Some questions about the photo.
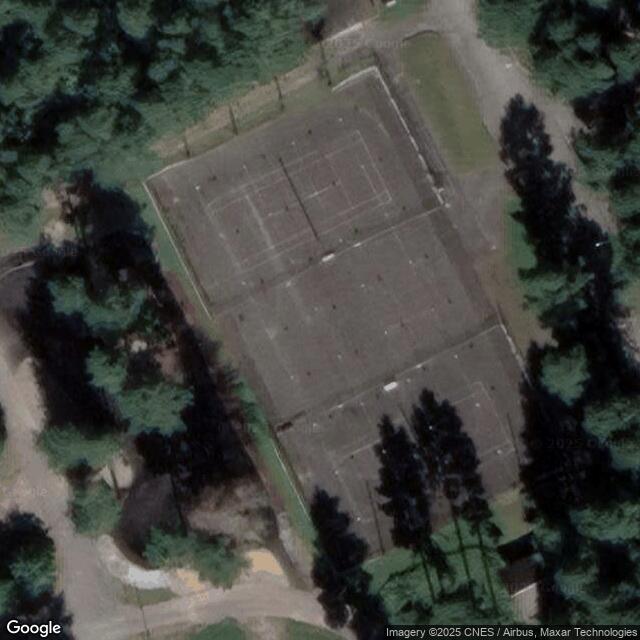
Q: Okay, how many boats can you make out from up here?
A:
none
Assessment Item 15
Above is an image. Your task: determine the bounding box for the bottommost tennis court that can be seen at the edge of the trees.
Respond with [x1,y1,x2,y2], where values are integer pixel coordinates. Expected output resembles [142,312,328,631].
[278,328,529,561]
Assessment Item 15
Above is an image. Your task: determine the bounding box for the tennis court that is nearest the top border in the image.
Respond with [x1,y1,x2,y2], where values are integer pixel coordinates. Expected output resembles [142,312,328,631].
[146,70,442,317]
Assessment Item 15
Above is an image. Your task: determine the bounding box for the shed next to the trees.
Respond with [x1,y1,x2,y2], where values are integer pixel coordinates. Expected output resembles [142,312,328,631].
[499,563,536,639]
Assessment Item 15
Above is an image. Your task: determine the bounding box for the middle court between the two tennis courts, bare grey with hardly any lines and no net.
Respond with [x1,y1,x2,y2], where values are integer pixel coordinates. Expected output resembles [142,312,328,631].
[216,208,502,428]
